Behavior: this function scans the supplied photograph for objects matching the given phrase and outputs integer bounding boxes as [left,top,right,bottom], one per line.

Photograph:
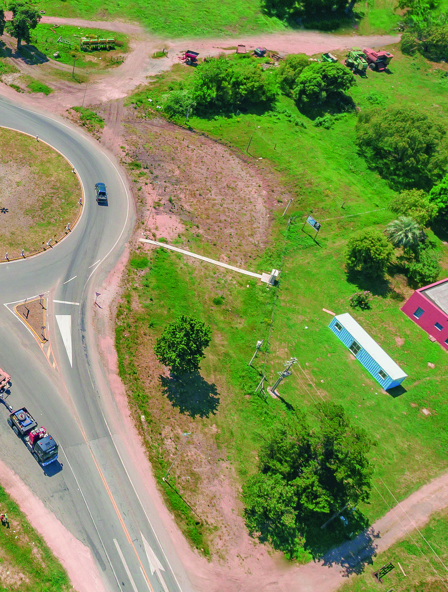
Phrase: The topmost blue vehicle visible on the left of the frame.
[96,181,109,203]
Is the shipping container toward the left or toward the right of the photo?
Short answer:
right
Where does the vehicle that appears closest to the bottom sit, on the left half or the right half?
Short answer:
left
